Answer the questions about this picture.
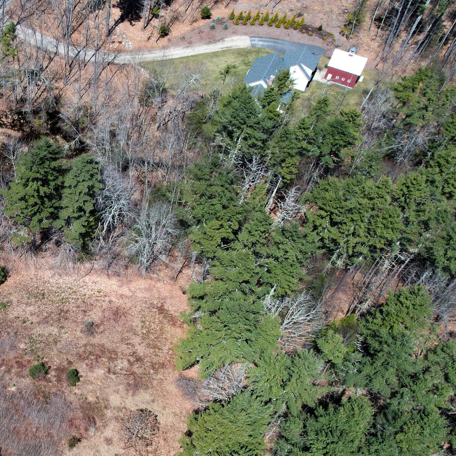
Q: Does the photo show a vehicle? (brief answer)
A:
No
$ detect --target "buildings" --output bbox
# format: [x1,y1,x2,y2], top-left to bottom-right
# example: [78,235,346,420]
[241,45,320,115]
[323,47,368,90]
